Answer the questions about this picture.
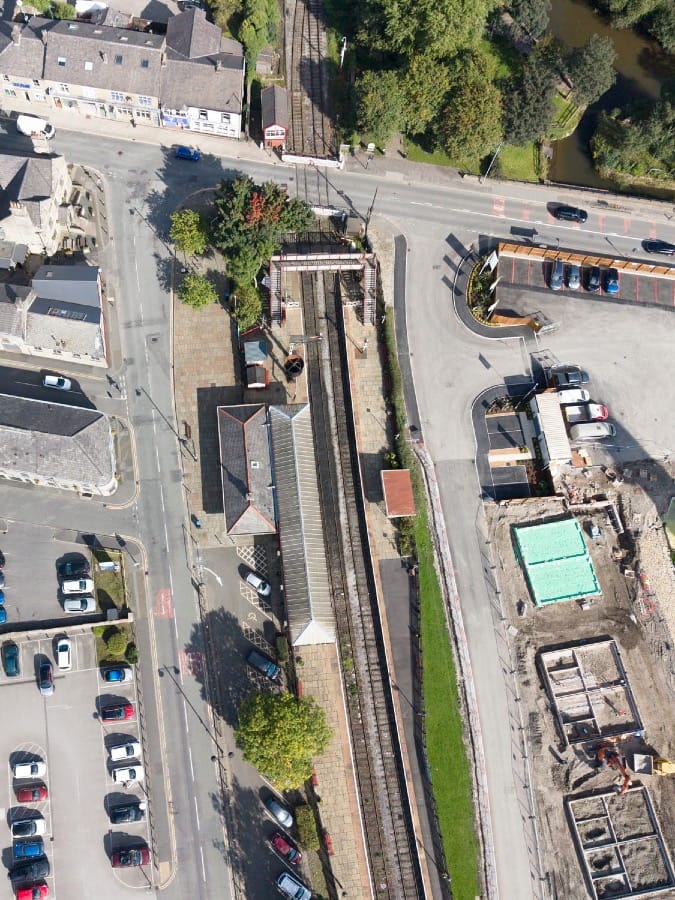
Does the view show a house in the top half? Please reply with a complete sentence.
Yes, in the top half there is a house.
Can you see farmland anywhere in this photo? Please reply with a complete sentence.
No, the scene doesn't show any farmland.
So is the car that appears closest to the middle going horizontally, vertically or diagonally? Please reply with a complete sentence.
What the image shows is the car that appears closest to the middle lying diagonally.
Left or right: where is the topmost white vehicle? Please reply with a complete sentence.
The topmost white vehicle appears in the left half of the scene.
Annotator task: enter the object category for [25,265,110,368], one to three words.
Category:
building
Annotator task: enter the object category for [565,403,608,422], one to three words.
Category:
vehicle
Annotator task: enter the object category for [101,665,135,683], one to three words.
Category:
car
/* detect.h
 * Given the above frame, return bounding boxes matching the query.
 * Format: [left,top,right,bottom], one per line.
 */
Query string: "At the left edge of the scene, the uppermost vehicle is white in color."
[16,113,54,138]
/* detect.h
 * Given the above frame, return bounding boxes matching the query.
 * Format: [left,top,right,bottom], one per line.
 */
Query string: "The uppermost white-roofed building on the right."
[526,393,570,469]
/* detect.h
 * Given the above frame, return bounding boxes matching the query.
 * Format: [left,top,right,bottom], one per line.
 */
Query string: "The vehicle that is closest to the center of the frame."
[244,569,274,599]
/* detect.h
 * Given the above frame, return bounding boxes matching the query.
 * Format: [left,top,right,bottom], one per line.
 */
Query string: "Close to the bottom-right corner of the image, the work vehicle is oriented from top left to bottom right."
[588,740,633,794]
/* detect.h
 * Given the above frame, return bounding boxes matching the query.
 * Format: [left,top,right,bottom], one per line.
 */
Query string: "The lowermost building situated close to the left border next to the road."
[0,396,119,505]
